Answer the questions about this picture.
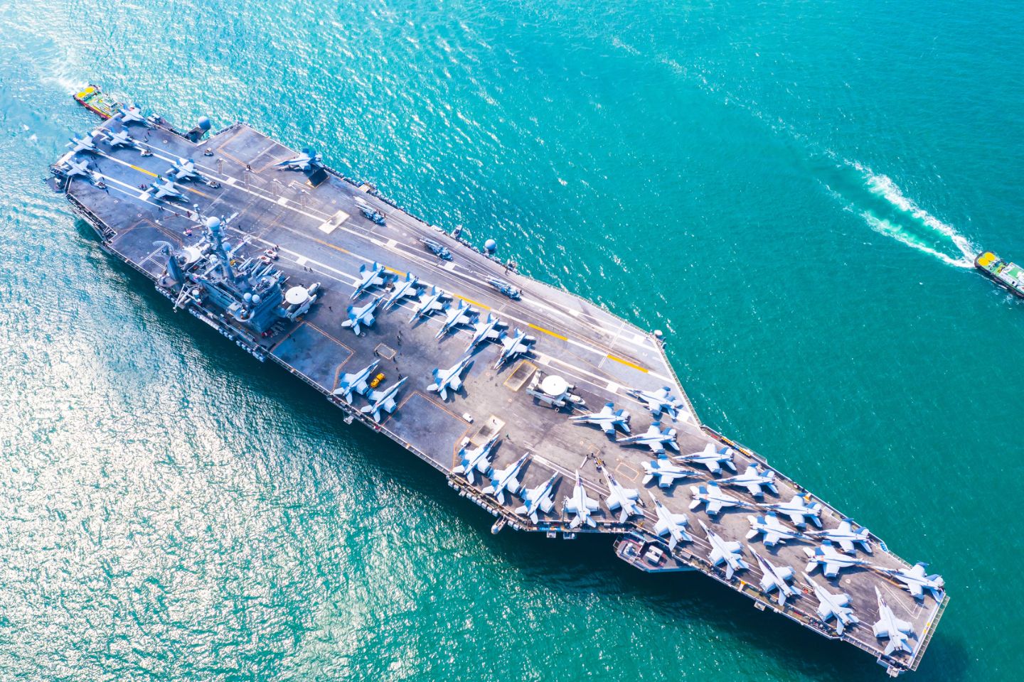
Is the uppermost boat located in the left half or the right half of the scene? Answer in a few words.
left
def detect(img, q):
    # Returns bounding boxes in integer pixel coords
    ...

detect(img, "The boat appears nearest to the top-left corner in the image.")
[77,84,127,120]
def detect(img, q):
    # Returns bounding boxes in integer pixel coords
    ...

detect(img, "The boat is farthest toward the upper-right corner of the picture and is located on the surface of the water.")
[976,251,1024,301]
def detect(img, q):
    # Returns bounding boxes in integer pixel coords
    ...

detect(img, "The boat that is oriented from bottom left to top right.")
[492,518,506,532]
